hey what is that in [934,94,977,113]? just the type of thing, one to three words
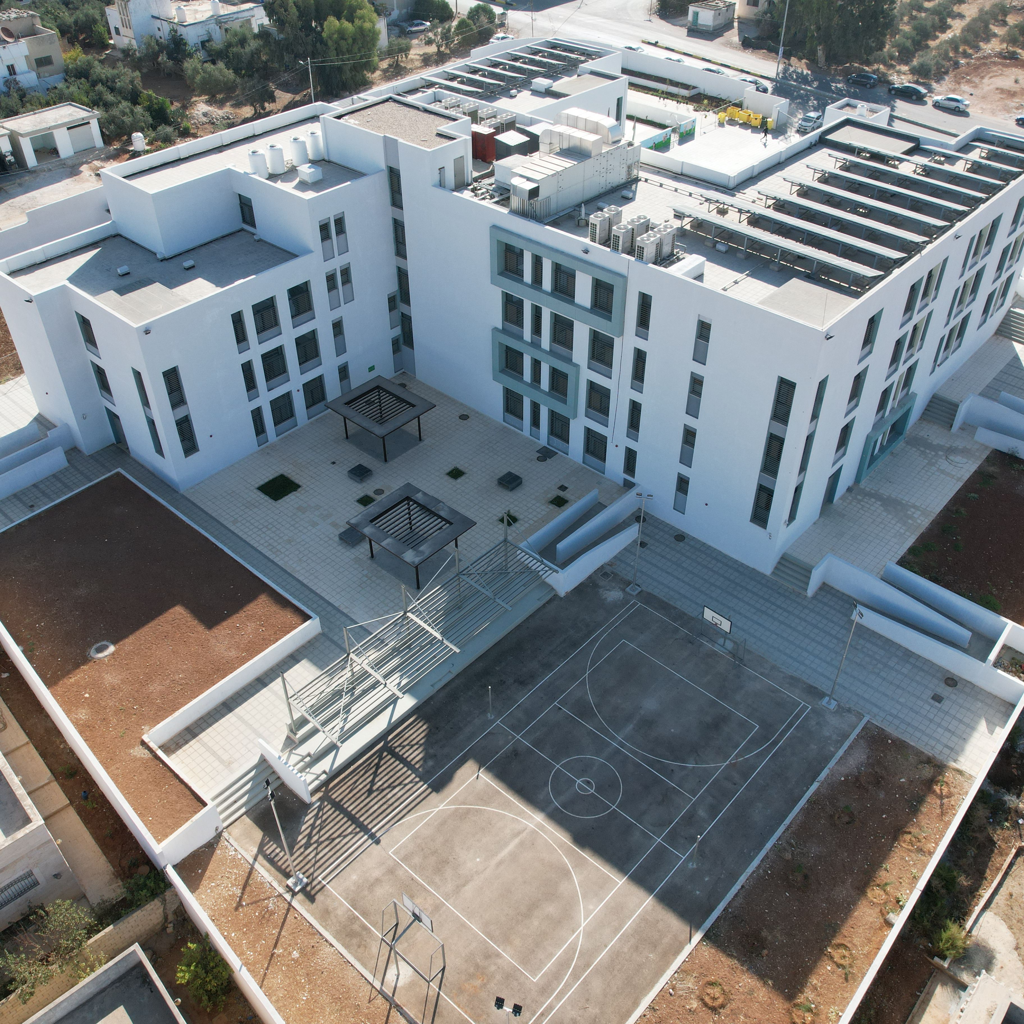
car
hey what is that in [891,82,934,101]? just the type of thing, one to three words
car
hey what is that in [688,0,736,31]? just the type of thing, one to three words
building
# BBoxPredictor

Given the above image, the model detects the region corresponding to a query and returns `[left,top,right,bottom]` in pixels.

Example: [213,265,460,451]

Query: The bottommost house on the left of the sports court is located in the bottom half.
[21,943,185,1024]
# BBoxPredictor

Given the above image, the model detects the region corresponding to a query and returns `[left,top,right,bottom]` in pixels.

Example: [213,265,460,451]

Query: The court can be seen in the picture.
[222,564,866,1024]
